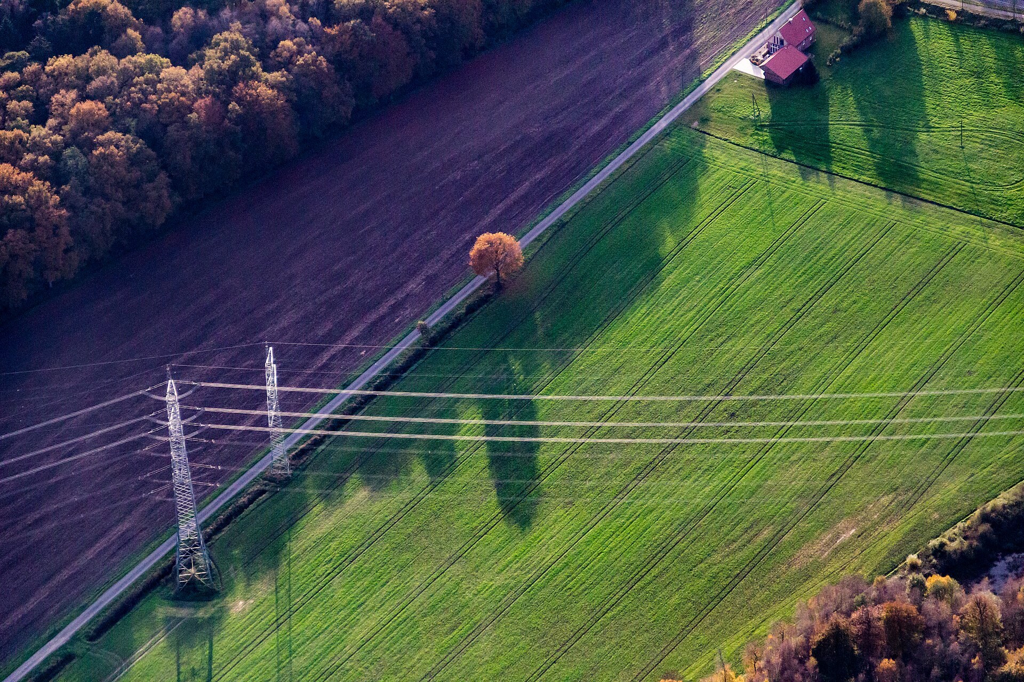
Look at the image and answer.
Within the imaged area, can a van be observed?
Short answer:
No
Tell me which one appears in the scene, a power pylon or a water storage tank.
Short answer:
power pylon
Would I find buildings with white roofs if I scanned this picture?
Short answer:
No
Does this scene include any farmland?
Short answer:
Yes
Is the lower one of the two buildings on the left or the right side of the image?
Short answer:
right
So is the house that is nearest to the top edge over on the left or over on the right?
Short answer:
right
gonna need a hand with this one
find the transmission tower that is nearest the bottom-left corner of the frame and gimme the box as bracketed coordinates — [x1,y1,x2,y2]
[146,366,216,590]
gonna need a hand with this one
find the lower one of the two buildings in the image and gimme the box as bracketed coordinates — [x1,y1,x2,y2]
[759,43,808,83]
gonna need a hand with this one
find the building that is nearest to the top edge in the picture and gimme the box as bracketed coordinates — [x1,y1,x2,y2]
[766,9,817,53]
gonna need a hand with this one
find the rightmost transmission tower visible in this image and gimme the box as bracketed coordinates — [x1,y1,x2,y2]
[263,340,290,477]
